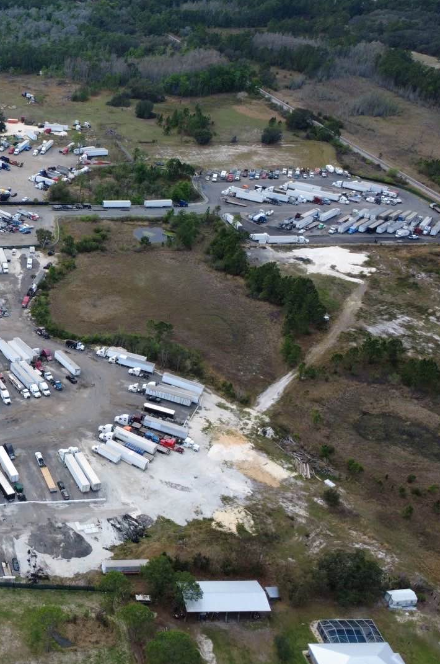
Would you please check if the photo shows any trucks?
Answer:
Yes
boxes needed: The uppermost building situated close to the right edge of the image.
[388,588,423,615]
